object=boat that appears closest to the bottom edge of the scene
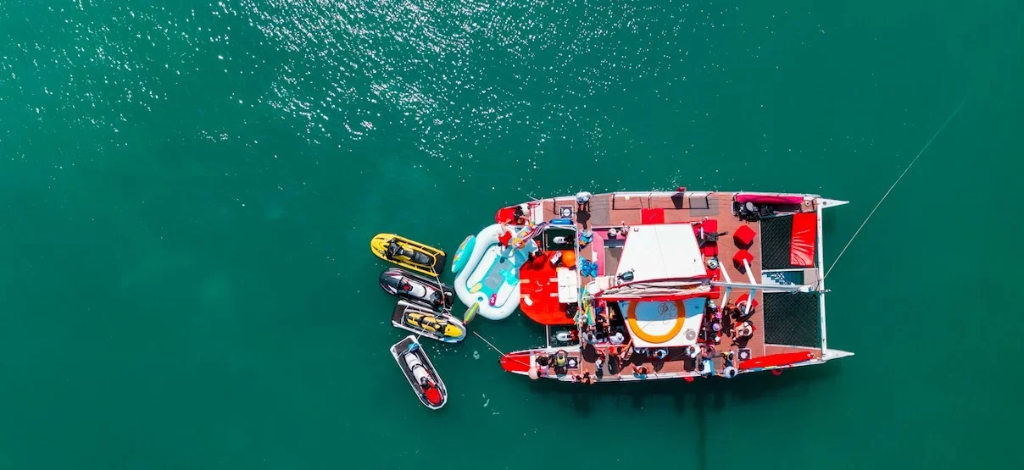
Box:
[390,335,446,411]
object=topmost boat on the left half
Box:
[369,234,447,277]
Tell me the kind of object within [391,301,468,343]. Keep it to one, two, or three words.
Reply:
boat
